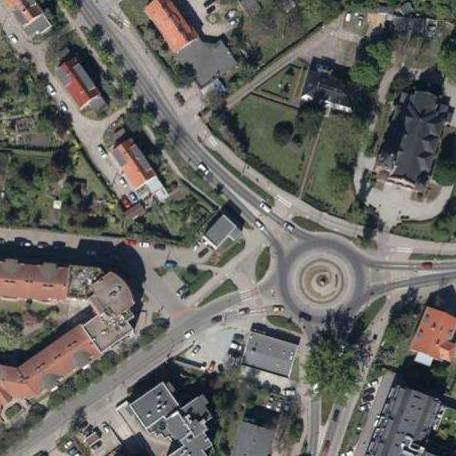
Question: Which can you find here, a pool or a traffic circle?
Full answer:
This aerial view contains a traffic circle.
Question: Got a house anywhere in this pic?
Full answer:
Yes, the image includes a house.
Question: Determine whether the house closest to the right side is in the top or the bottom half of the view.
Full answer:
The house closest to the right side is in the bottom half of the image.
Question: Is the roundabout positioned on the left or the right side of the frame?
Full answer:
It is on the right.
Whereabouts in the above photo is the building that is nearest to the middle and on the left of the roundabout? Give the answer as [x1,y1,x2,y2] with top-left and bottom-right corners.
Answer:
[199,216,241,250]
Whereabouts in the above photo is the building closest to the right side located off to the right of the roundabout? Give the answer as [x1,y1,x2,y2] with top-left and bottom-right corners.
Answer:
[411,306,456,367]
